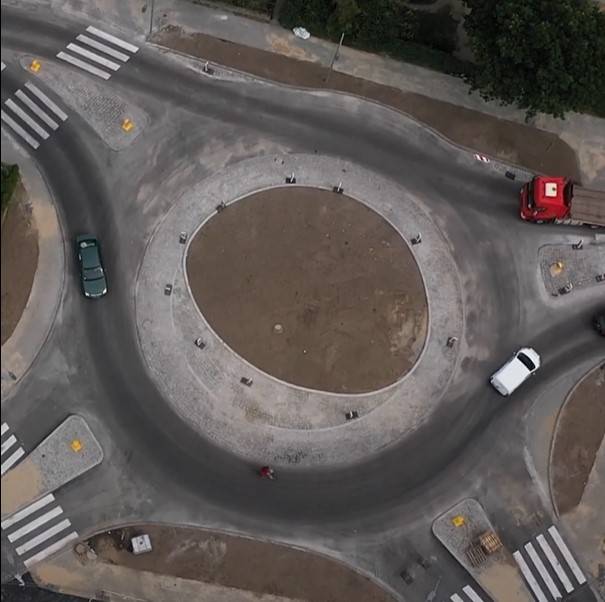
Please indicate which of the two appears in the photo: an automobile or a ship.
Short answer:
automobile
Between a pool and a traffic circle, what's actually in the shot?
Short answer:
traffic circle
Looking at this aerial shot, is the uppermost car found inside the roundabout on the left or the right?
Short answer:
left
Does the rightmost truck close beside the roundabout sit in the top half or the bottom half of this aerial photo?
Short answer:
top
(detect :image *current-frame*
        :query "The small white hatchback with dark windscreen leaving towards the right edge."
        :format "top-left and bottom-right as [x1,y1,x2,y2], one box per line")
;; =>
[490,349,539,398]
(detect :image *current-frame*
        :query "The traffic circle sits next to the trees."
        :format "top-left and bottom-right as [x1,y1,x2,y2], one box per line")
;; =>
[56,80,541,552]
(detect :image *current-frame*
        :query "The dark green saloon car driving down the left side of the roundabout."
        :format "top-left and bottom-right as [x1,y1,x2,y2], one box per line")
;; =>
[75,234,108,300]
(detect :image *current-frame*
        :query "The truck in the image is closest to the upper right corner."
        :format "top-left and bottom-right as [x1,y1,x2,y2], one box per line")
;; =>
[522,173,605,226]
